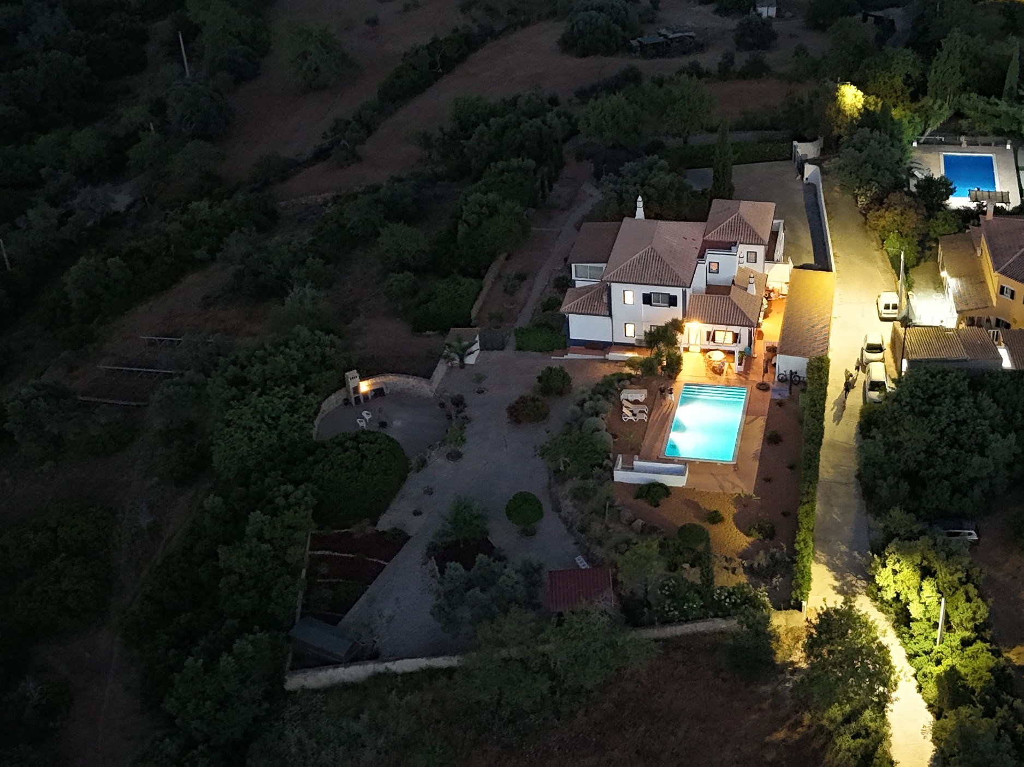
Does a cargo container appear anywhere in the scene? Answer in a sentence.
No, the scene contains no cargo container.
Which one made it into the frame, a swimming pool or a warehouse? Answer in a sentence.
Of the two, only a swimming pool appears.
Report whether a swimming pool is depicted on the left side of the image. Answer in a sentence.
No, there's no swimming pool to be seen on the left side of the image.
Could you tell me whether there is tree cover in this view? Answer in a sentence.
Yes, tree cover can be seen from above here.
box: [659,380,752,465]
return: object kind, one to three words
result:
swimming pool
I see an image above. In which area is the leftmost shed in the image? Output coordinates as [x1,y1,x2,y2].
[290,618,366,669]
